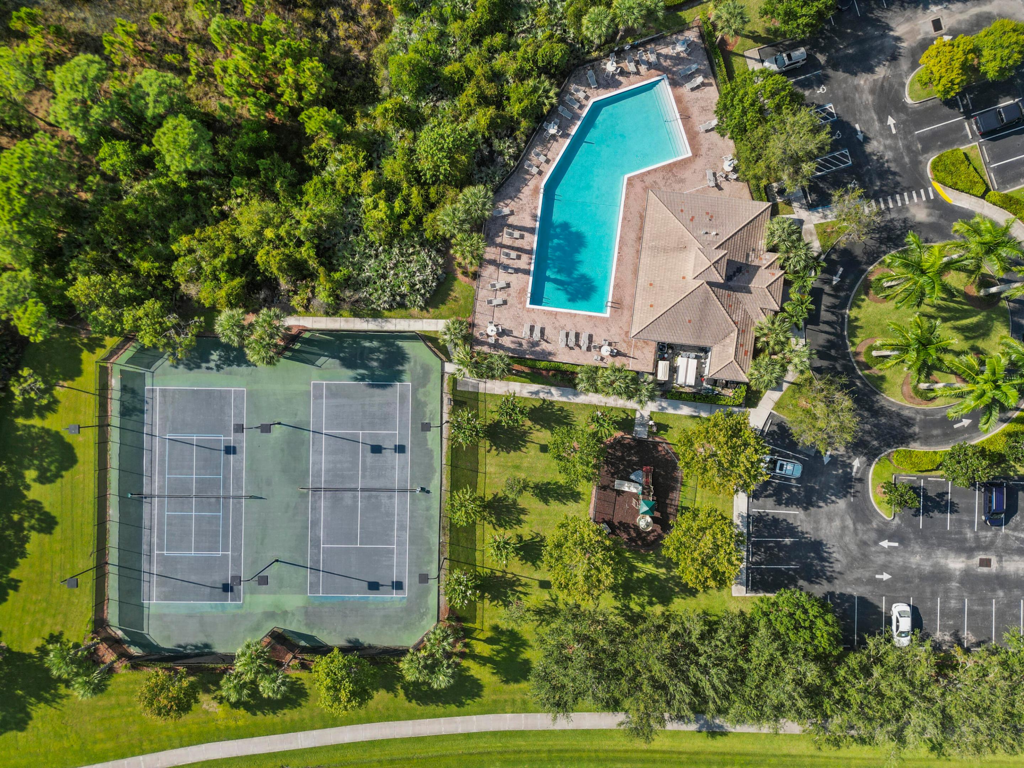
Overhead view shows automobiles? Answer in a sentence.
Yes, an automobile appears in the view.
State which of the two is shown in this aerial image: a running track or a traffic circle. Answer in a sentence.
Visible in the photo is a traffic circle.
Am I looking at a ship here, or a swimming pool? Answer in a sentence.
I can see a swimming pool in this picture.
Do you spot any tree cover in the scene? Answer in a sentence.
Yes, there is tree cover in the image.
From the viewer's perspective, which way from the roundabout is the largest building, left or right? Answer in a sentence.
It is on the left side of the roundabout that the largest building is positioned.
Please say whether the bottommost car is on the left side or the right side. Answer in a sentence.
It is on the right.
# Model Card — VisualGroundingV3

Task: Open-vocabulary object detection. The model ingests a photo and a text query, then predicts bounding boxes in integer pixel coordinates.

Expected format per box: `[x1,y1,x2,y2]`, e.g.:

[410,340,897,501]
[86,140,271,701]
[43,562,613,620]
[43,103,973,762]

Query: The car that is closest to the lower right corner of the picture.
[889,602,912,646]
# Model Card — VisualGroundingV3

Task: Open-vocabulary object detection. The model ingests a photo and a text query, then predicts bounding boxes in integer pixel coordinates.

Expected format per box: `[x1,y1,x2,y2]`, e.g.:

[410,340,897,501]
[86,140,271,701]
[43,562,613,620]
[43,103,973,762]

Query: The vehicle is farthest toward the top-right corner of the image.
[971,104,1024,136]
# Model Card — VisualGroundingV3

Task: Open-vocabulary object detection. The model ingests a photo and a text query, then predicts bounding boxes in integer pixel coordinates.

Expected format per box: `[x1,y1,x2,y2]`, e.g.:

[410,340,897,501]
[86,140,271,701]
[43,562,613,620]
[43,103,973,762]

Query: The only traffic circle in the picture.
[846,243,1012,408]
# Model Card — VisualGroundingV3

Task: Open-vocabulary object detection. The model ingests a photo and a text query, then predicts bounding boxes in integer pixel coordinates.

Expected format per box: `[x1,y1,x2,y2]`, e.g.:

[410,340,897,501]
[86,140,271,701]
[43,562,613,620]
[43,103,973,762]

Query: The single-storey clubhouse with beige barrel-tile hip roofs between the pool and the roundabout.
[631,188,784,382]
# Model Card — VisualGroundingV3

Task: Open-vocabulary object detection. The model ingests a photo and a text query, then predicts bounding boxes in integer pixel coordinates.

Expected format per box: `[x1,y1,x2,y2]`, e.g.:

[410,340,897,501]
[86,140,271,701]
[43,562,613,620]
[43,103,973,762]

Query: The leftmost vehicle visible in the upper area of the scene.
[762,45,808,70]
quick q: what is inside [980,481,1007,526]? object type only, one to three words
car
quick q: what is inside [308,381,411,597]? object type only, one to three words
tennis court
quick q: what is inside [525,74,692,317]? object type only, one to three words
swimming pool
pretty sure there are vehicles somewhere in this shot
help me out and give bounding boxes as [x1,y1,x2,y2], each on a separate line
[971,104,1024,136]
[980,481,1007,526]
[889,602,912,646]
[763,455,802,477]
[762,45,808,70]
